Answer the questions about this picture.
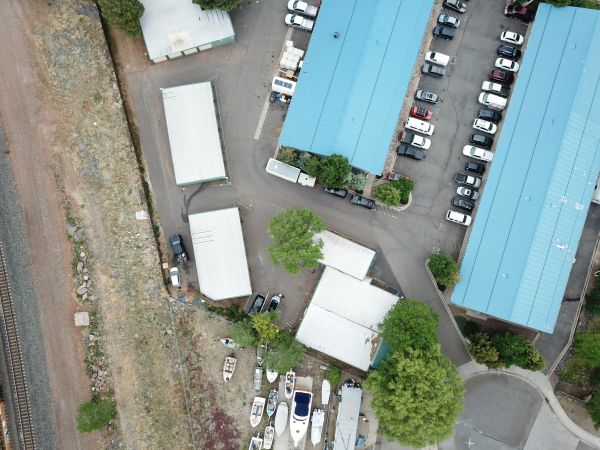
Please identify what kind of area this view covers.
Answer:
industrial area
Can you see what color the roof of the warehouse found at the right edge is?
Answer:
blue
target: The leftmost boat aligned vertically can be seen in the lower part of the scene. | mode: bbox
[224,352,237,380]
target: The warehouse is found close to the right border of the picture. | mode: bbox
[451,3,600,335]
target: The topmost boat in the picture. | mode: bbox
[265,294,281,315]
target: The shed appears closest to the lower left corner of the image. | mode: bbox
[188,207,254,301]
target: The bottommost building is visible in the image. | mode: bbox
[296,265,400,373]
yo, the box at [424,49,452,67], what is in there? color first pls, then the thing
white vehicle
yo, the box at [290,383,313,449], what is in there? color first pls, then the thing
white boat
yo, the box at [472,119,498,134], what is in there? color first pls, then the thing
white car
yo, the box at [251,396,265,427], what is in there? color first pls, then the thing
white boat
